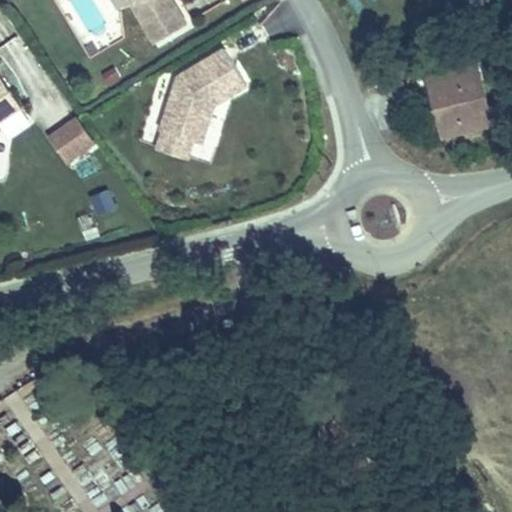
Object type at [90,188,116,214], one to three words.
shed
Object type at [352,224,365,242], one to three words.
vehicle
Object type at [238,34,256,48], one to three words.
vehicle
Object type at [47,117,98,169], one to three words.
building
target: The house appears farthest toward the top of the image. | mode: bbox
[120,0,194,48]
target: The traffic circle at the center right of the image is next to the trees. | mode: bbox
[334,167,434,267]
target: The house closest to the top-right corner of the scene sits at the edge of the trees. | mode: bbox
[428,64,492,142]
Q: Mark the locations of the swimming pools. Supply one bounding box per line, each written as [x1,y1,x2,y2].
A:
[54,0,126,58]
